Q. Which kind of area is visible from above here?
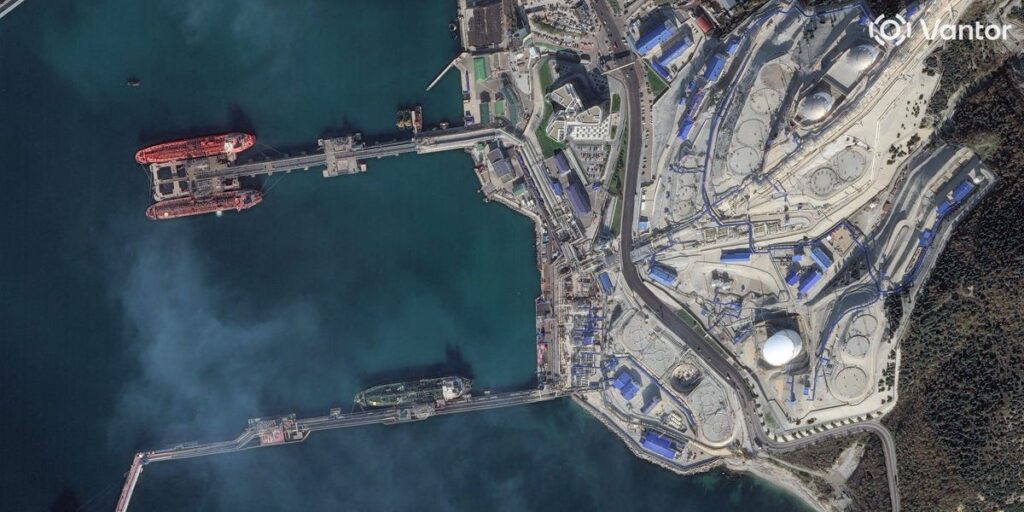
port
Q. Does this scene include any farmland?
No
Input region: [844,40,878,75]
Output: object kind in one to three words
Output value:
storage tank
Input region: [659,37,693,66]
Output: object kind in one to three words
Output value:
building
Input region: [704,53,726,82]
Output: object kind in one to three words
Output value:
building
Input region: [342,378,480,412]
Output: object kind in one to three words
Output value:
ship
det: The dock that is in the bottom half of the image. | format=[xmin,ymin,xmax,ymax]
[112,386,567,512]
